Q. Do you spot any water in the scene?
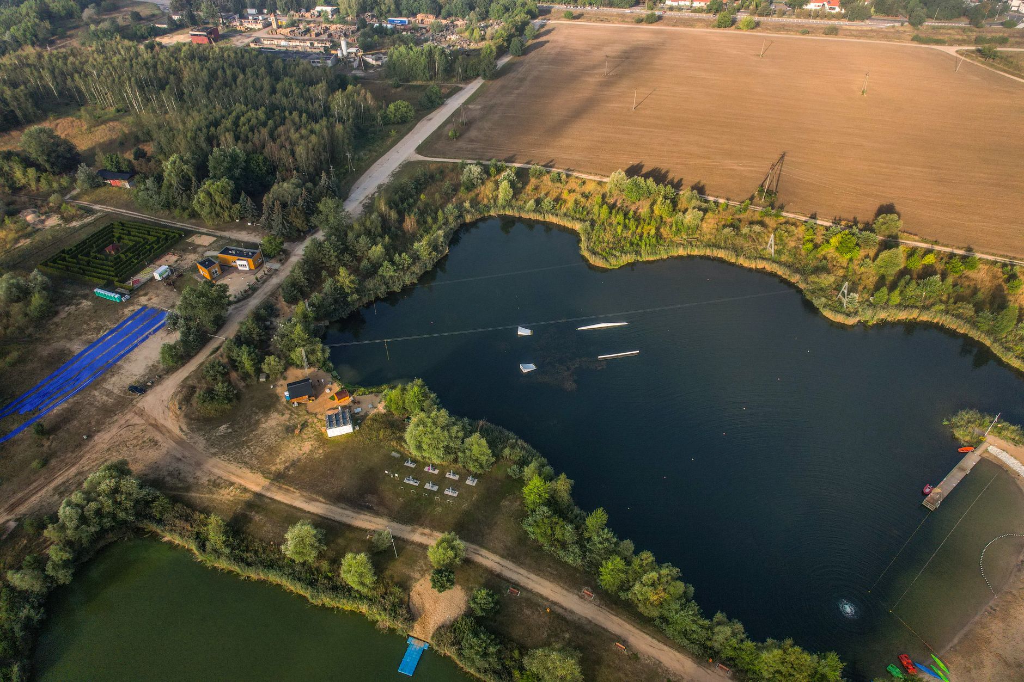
Yes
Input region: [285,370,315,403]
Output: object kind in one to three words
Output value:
shed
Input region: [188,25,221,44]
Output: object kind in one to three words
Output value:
shed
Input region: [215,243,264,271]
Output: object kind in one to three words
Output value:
building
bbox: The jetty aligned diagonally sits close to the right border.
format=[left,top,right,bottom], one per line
[918,440,986,515]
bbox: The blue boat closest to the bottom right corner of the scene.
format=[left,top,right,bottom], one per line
[915,662,941,679]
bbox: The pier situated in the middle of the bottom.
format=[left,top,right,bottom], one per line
[395,638,428,682]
